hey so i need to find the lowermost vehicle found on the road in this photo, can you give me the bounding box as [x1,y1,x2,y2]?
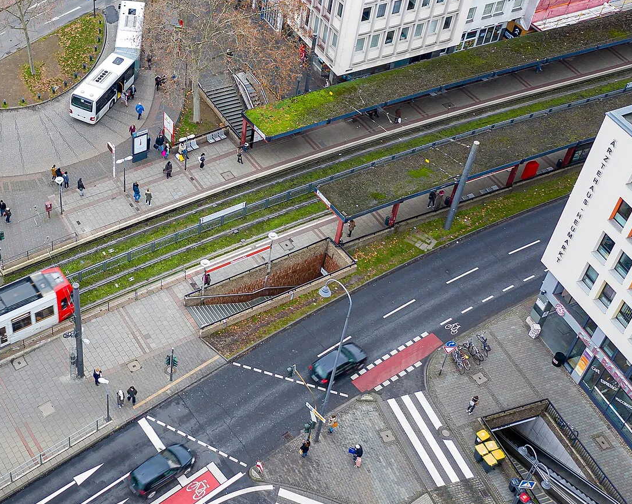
[125,446,204,504]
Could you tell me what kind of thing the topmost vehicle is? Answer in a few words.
bus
